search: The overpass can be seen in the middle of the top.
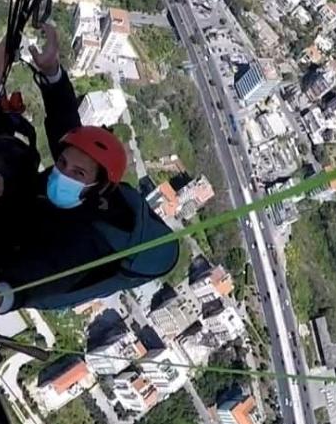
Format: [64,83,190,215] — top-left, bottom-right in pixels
[167,0,216,66]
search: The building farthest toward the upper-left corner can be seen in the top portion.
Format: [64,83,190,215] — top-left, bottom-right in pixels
[77,1,101,52]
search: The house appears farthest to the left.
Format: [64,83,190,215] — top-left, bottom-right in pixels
[39,385,66,411]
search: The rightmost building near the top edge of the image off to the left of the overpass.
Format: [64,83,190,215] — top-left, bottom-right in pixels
[103,8,131,51]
